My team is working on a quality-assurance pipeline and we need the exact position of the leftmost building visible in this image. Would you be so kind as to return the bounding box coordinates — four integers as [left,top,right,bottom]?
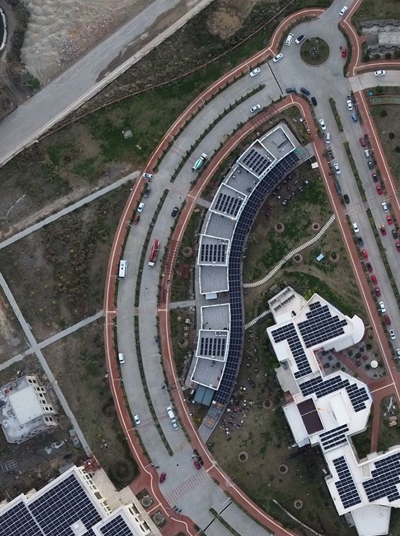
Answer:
[0,376,57,443]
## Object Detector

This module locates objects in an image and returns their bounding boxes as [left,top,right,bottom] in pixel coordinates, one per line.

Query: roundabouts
[299,37,327,65]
